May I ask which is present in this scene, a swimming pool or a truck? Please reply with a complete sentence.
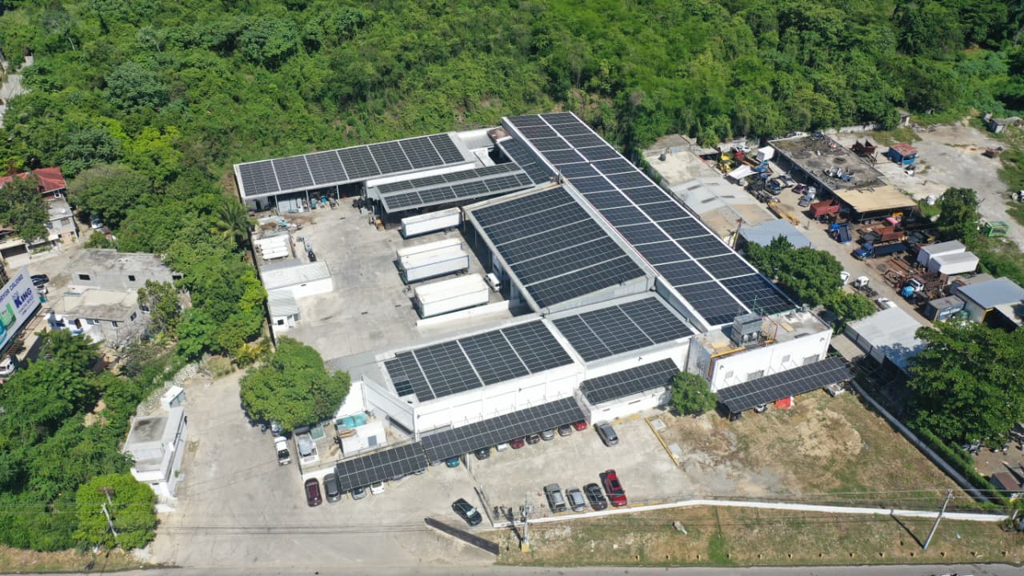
The image shows a truck.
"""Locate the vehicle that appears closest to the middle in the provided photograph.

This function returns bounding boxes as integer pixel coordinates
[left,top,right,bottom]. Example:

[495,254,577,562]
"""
[484,271,505,291]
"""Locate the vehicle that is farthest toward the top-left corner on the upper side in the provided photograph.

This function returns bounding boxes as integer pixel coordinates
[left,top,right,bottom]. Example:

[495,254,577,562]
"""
[88,211,103,229]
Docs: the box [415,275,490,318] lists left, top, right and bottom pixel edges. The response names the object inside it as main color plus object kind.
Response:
white trailer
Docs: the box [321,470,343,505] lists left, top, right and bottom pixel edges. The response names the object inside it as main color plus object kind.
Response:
gray car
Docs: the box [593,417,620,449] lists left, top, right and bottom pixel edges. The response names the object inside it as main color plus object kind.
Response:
gray car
